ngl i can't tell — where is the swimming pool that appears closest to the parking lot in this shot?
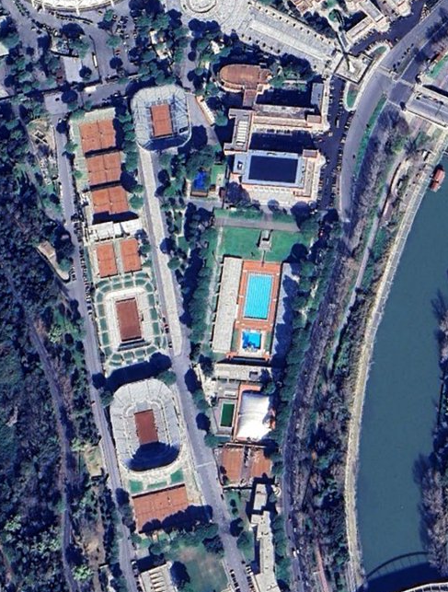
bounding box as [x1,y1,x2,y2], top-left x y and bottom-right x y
[229,261,282,361]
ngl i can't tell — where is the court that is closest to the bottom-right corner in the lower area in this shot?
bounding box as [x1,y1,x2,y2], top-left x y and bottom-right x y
[252,448,272,479]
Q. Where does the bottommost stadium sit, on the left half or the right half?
left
